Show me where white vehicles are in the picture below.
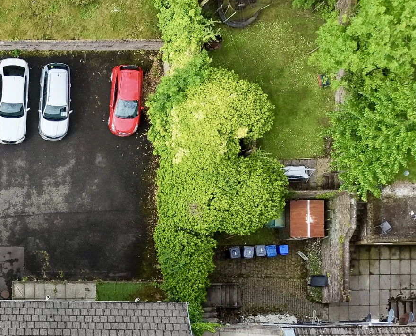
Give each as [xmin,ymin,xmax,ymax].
[37,62,76,142]
[0,57,31,144]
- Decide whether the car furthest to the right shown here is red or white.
red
